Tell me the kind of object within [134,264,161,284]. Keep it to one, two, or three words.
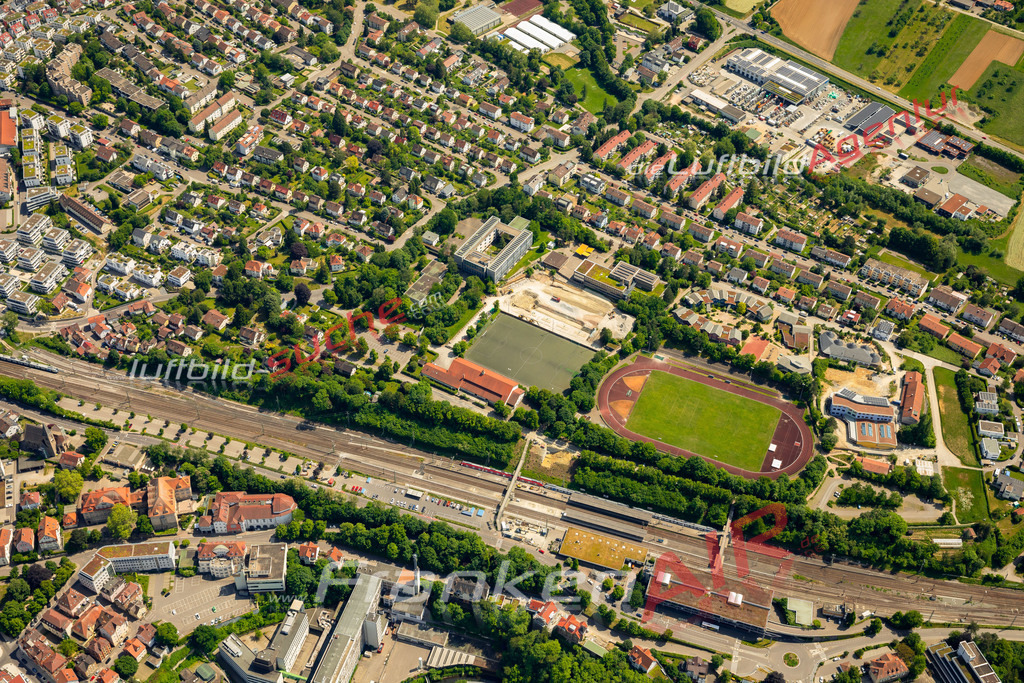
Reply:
house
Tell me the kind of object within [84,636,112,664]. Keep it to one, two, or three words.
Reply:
house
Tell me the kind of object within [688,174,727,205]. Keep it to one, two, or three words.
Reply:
building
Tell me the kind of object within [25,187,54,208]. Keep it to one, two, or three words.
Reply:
building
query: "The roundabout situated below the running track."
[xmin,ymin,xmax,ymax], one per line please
[765,641,816,676]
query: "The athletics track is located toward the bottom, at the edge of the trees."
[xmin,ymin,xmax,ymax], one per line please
[597,363,814,480]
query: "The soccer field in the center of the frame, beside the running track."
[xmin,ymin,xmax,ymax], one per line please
[465,312,593,392]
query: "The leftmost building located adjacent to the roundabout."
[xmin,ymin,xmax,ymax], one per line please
[645,559,773,635]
